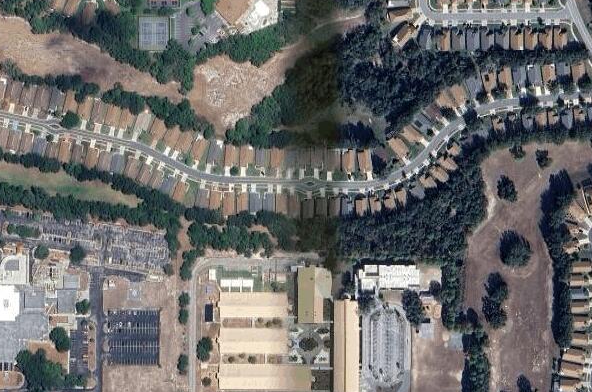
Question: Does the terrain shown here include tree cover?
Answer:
Yes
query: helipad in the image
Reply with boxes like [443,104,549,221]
[128,284,142,300]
